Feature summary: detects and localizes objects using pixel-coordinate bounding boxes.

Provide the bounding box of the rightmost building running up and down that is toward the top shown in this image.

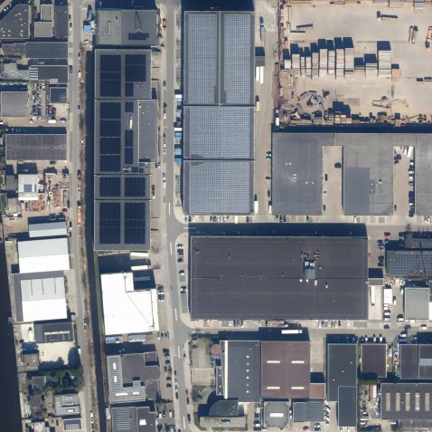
[183,11,252,215]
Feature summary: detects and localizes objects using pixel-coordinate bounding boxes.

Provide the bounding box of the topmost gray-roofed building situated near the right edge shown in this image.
[271,133,432,216]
